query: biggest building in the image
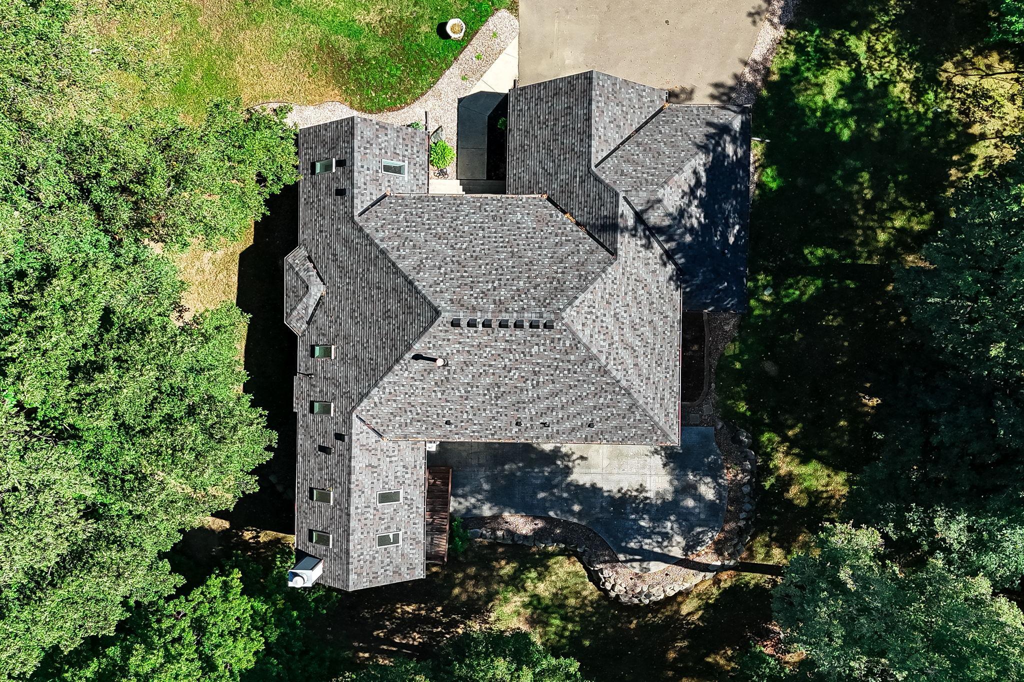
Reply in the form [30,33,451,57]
[282,68,755,591]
